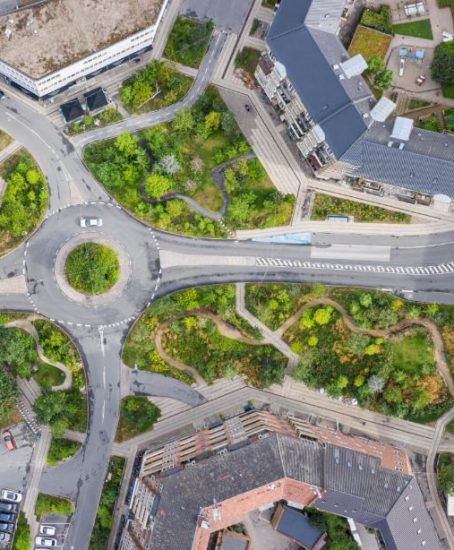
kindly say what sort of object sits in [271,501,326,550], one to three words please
building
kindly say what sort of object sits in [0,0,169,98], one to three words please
building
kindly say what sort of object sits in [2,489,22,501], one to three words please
vehicle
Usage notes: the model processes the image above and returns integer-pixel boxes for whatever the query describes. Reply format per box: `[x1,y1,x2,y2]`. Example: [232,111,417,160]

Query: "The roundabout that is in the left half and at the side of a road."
[23,202,161,327]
